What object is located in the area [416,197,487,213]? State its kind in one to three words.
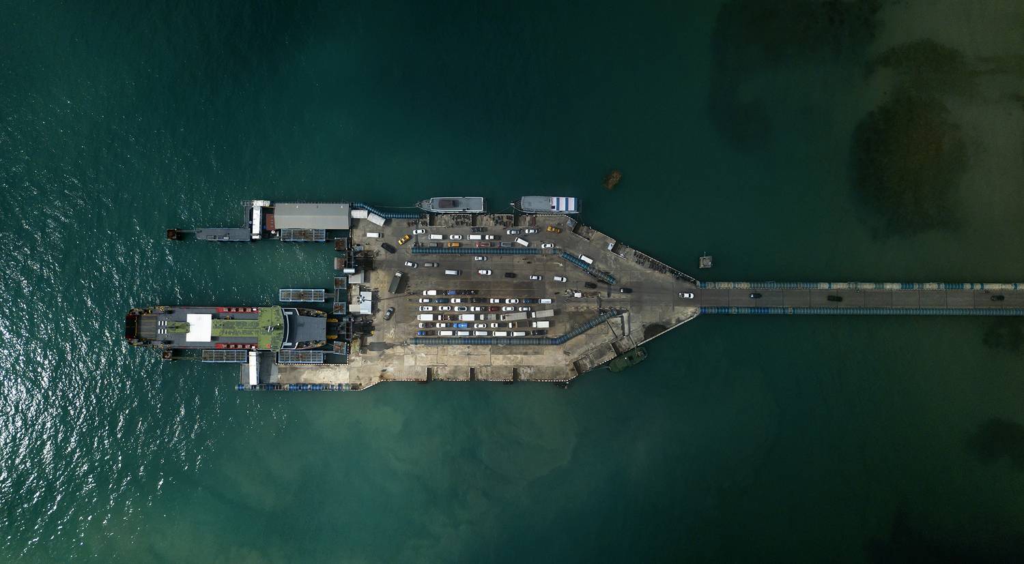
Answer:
boat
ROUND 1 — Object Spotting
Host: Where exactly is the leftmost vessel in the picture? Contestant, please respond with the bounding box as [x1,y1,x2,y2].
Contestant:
[126,306,328,351]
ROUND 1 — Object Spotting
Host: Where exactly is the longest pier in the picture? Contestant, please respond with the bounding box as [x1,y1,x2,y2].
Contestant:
[241,204,702,390]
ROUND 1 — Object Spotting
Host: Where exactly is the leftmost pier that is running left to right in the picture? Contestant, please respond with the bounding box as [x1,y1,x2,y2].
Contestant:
[196,228,252,241]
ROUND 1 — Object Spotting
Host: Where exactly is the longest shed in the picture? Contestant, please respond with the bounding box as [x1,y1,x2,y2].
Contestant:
[273,200,351,229]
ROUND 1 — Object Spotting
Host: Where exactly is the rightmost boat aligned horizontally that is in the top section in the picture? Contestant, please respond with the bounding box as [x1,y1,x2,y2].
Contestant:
[510,196,581,214]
